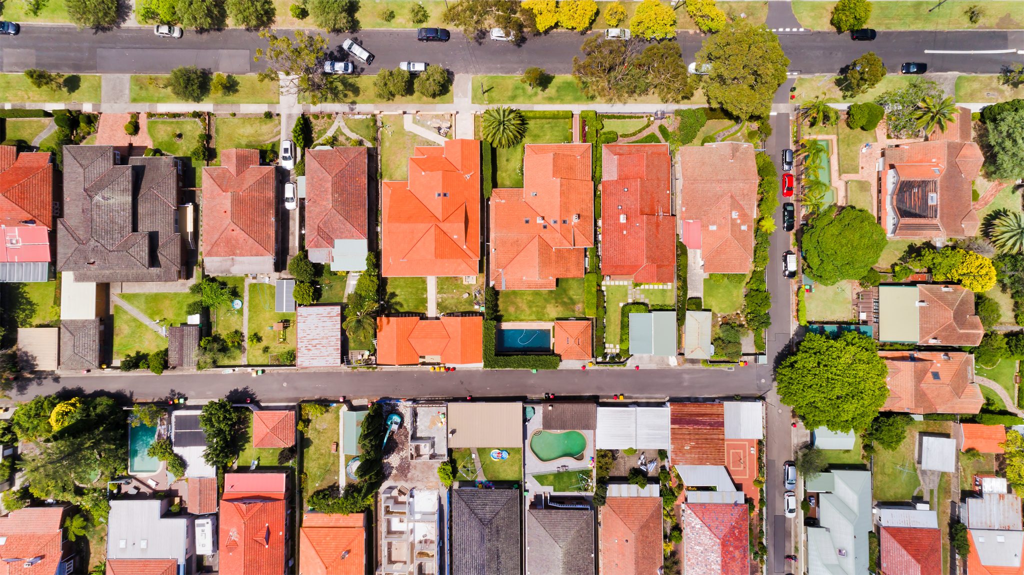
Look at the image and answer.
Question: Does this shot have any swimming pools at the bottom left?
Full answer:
Yes, you'll find a swimming pool at the bottom left.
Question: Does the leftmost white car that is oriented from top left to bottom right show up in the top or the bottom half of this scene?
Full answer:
You can find the leftmost white car that is oriented from top left to bottom right in the top half.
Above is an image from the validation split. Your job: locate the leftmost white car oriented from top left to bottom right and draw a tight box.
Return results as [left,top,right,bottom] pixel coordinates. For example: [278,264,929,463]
[343,41,374,65]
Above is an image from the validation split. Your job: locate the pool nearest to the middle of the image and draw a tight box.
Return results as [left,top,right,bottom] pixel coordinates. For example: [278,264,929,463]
[495,326,554,355]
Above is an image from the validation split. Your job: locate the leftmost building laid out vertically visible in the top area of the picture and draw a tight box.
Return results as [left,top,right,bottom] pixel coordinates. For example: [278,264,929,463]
[0,145,61,282]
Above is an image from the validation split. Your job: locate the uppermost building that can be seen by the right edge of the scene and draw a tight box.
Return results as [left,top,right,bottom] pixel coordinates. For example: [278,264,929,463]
[867,104,984,238]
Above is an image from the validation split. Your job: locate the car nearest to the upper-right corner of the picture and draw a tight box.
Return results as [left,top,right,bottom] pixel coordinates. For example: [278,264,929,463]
[899,61,926,75]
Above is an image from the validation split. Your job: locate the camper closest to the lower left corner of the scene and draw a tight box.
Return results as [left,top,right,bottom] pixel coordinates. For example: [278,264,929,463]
[195,515,219,563]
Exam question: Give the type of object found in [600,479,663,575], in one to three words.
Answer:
house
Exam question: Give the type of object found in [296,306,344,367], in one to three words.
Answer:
building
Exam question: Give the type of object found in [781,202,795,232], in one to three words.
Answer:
car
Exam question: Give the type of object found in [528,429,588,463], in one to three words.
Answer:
swimming pool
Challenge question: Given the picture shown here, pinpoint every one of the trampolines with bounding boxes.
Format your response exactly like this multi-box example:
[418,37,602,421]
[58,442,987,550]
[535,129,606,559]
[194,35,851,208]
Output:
[231,299,243,310]
[345,459,363,479]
